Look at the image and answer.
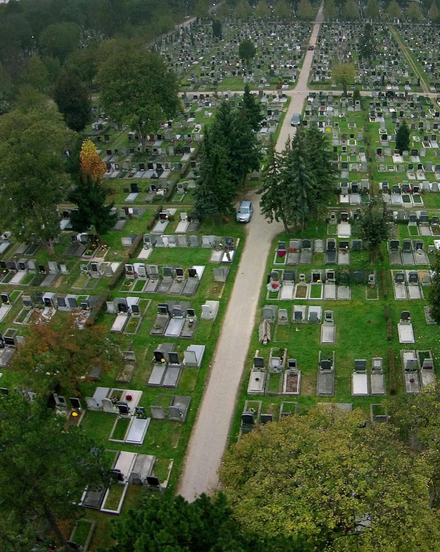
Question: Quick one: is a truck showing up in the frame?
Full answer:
No, there is no truck in the image.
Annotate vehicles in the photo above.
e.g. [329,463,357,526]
[235,195,254,219]
[288,109,301,122]
[307,44,314,50]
